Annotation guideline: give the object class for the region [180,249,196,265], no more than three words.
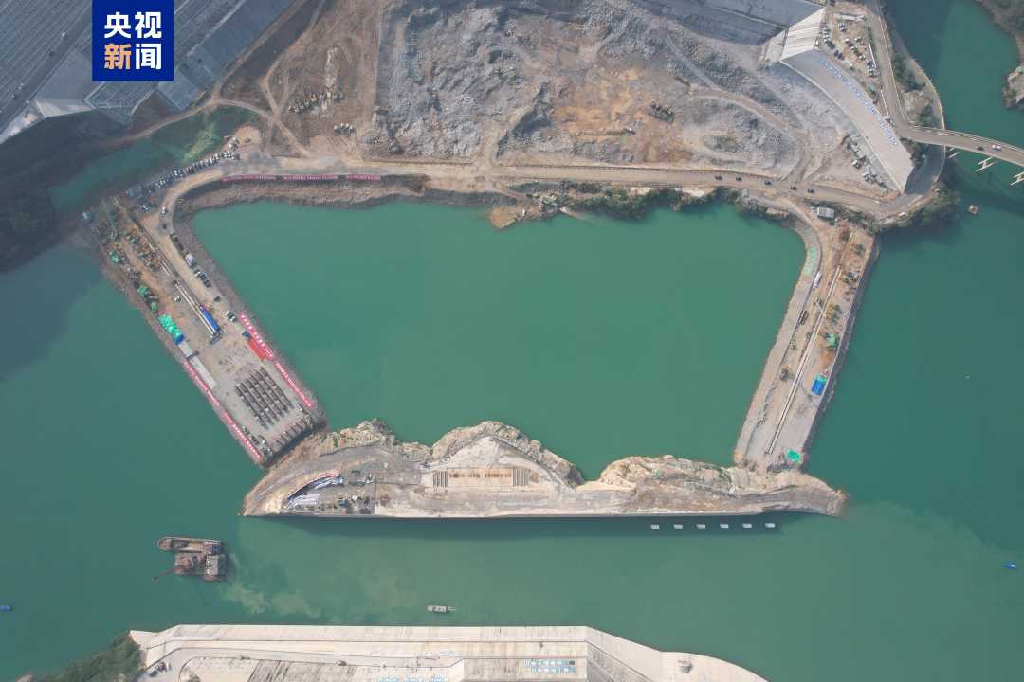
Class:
vehicle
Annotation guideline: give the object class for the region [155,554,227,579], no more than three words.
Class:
ship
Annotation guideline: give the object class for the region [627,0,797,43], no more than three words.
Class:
dam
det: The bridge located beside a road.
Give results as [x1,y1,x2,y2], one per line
[910,124,1024,188]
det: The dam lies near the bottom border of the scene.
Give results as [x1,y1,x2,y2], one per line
[131,625,767,682]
